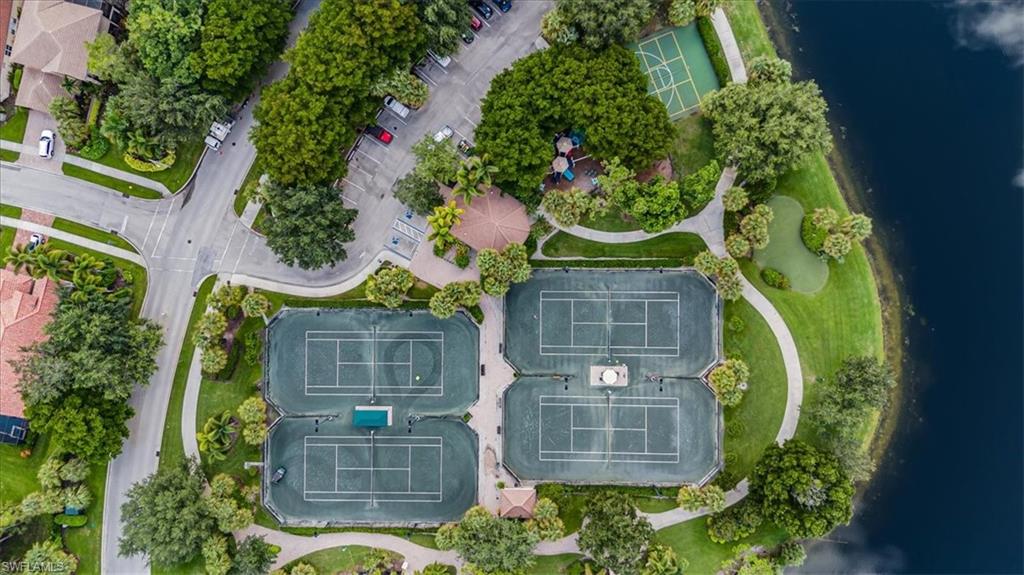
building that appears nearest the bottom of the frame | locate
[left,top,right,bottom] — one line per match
[500,484,537,518]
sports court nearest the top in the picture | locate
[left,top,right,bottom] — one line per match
[624,22,719,122]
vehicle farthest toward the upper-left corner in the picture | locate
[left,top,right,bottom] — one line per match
[37,130,56,159]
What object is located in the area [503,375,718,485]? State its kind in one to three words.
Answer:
tennis court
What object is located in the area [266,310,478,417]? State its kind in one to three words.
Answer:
tennis court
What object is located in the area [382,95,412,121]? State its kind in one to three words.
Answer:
vehicle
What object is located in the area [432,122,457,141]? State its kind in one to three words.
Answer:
car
